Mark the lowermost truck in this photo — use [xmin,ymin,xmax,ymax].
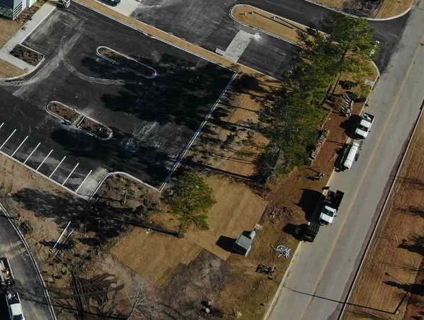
[5,289,26,320]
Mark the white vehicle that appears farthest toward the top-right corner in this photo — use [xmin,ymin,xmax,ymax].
[357,110,376,138]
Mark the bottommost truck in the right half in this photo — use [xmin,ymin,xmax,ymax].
[299,214,325,247]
